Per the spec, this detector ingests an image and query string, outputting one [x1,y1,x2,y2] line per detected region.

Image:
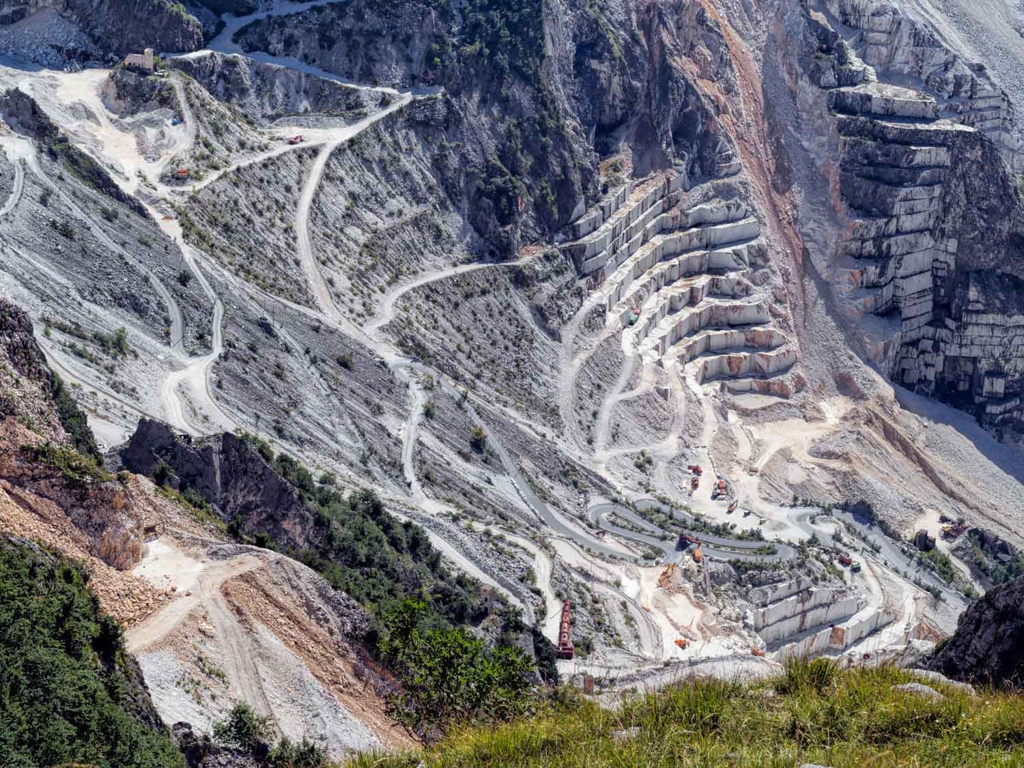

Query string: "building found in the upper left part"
[126,48,161,74]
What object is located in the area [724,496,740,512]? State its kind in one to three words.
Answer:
work vehicle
